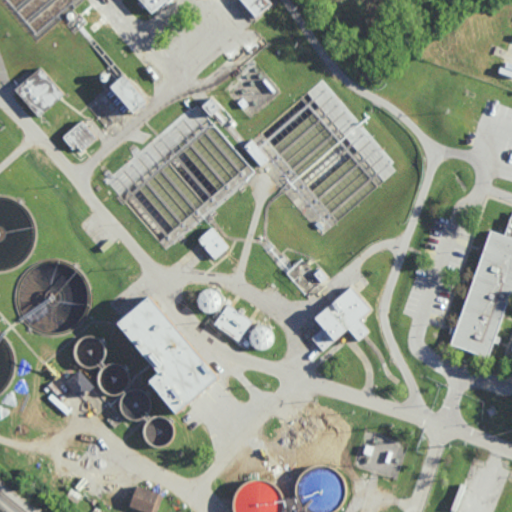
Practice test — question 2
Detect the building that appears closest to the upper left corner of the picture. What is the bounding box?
[15,68,64,118]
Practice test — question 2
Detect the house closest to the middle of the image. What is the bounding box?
[198,228,230,260]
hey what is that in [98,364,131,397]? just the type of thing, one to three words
storage tank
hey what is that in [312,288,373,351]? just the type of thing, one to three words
building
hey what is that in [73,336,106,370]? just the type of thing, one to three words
storage tank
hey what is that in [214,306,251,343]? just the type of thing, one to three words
house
